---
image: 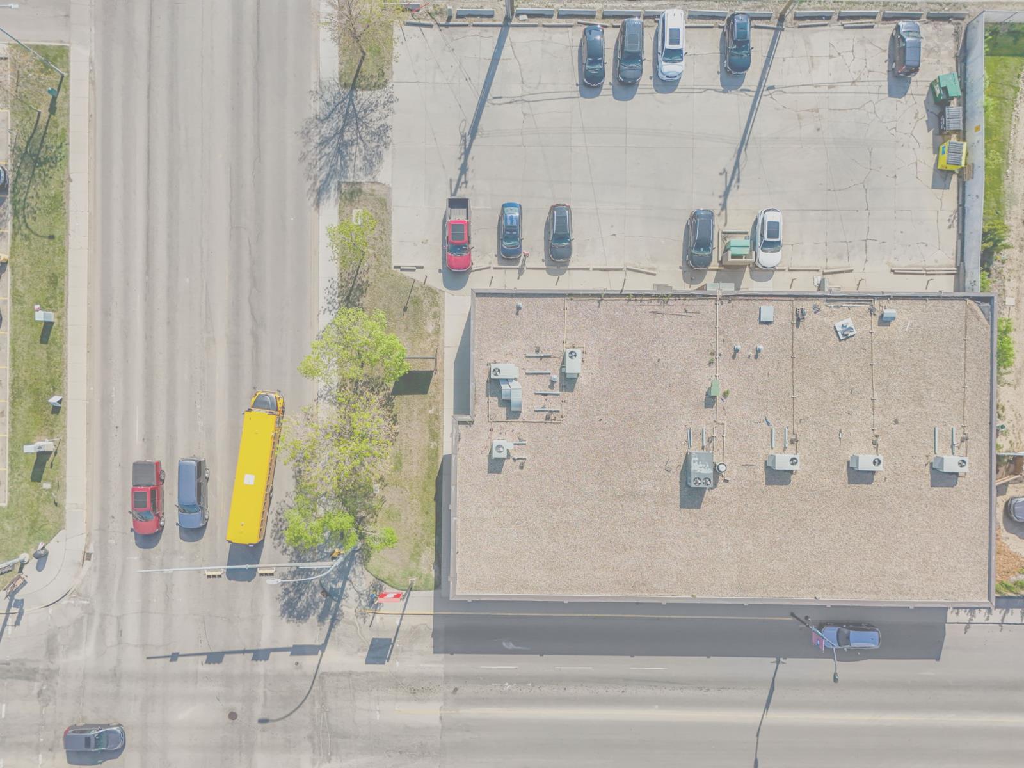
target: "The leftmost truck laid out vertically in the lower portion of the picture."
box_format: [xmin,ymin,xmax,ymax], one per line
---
[130,458,167,535]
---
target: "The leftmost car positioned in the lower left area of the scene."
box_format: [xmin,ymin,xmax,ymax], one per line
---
[63,719,130,754]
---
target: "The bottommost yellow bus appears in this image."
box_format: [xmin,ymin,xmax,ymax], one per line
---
[225,387,291,545]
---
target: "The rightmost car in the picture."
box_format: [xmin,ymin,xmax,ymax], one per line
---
[1001,496,1024,522]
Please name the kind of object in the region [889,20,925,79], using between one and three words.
car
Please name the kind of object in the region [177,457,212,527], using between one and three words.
car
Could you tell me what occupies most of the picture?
paved ground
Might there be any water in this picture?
No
